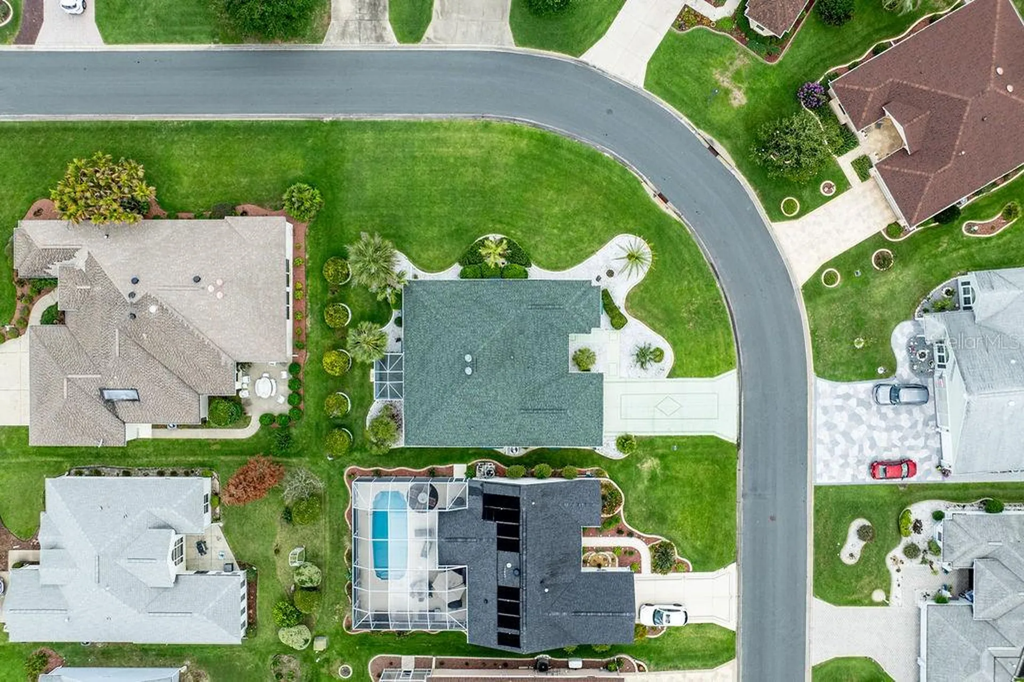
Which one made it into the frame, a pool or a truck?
pool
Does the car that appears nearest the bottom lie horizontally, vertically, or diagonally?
horizontally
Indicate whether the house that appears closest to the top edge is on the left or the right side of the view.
right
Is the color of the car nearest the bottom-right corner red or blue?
red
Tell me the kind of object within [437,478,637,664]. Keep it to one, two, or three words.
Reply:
house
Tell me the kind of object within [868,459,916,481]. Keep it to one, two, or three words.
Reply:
car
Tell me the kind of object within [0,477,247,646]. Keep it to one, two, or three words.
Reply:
house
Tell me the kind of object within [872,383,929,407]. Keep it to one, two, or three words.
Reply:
car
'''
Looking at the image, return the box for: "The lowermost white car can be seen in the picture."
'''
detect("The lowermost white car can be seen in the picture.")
[639,603,687,628]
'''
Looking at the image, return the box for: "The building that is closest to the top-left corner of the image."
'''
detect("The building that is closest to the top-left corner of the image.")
[13,215,292,446]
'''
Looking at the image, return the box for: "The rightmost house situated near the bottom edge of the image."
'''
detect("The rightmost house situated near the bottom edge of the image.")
[915,512,1024,682]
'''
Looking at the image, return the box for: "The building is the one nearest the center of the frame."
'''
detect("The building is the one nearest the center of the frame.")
[403,279,604,448]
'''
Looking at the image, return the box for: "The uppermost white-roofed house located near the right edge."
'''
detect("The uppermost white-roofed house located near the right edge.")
[913,268,1024,475]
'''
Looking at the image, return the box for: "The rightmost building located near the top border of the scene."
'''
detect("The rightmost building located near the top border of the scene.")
[825,0,1024,229]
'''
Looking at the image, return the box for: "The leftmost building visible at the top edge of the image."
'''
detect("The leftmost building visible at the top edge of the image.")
[744,0,807,43]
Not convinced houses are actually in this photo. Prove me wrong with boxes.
[37,660,187,682]
[13,215,292,446]
[825,0,1024,229]
[426,669,625,682]
[913,268,1024,475]
[744,0,807,43]
[437,478,637,664]
[0,477,247,646]
[915,512,1024,682]
[403,279,604,448]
